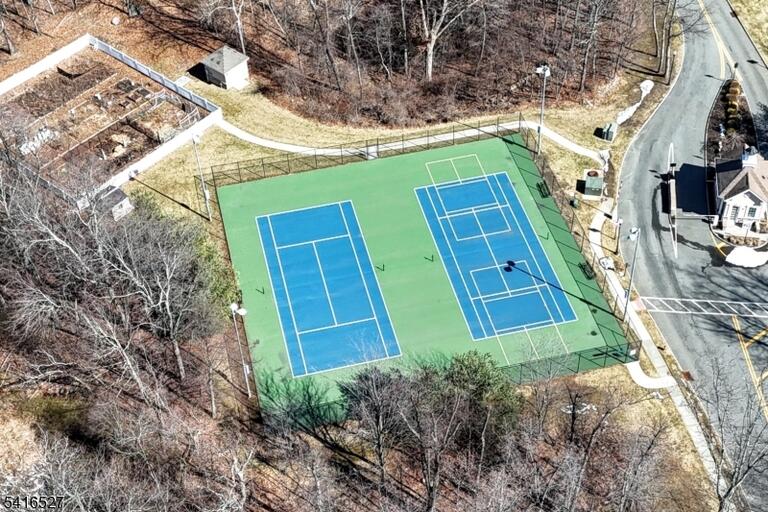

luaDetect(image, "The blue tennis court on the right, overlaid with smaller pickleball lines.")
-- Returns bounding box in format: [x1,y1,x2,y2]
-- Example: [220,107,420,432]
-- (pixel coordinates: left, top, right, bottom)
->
[415,154,578,364]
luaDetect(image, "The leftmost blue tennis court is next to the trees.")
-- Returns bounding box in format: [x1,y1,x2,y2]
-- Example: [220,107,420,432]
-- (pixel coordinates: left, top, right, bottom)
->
[256,200,402,377]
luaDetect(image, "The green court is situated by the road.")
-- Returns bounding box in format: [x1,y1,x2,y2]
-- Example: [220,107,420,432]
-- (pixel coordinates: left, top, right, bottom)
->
[215,133,638,436]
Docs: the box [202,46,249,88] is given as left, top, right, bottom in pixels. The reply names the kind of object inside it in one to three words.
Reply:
shed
